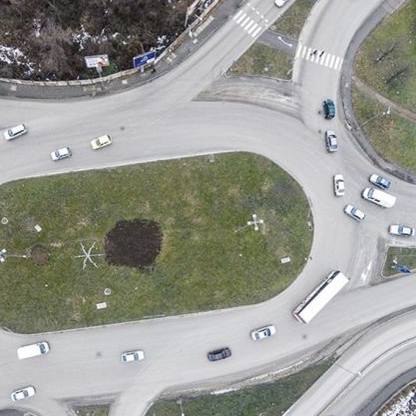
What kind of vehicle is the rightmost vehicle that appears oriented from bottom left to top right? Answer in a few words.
bus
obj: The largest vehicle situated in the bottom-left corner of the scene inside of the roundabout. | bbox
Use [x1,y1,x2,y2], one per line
[18,341,48,358]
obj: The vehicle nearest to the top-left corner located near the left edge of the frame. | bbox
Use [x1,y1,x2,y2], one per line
[4,124,28,140]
